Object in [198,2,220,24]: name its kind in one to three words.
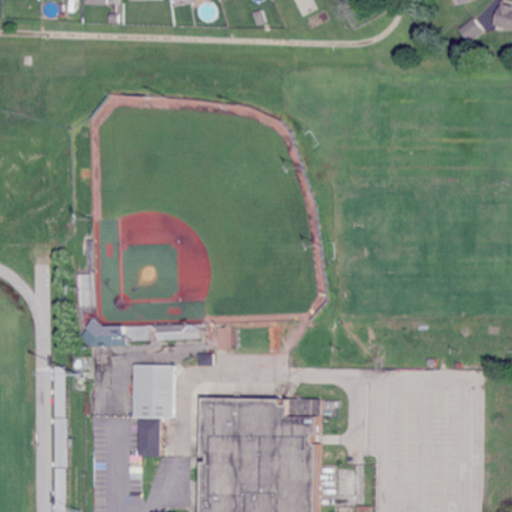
swimming pool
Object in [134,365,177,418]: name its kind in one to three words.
building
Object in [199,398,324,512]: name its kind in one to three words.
building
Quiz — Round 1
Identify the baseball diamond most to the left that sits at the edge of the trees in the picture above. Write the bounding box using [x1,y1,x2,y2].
[91,96,326,328]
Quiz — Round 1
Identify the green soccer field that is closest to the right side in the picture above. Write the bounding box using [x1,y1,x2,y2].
[338,76,512,315]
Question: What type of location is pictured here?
sports ground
